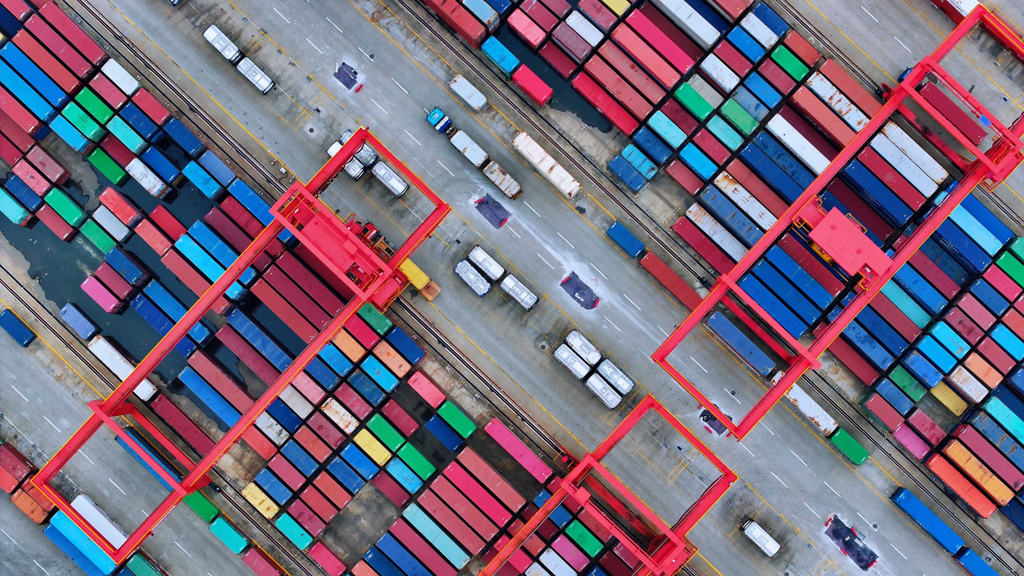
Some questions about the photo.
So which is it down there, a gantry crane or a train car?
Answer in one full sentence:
This aerial view contains a gantry crane.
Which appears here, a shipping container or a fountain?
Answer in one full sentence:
I can see a shipping container in this picture.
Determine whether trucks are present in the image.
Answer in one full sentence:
Yes, the photo shows a truck.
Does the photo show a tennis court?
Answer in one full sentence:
No, no tennis court is visible in the scene.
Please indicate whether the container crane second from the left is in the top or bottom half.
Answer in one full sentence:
The container crane second from the left sits in the bottom half of the picture.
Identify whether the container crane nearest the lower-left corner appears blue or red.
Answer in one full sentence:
In this view, the container crane nearest the lower-left corner is red.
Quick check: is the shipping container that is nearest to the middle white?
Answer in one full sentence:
Yes, the shipping container that is nearest to the middle appears white.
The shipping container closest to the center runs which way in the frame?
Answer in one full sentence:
From this overhead view, the shipping container closest to the center appears to run on a diagonal.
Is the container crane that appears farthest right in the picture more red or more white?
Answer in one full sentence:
From above, the container crane that appears farthest right appears red.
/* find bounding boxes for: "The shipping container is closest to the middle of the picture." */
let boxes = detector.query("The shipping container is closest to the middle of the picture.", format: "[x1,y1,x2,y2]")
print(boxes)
[499,273,538,312]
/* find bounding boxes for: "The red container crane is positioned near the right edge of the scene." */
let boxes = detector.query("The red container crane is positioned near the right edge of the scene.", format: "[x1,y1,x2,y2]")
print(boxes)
[649,2,1024,442]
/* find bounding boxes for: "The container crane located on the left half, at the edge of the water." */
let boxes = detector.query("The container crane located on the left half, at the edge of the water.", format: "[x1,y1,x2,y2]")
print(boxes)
[28,126,452,565]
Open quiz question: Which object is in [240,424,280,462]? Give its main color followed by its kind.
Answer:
red shipping container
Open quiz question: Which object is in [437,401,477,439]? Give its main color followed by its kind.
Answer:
green shipping container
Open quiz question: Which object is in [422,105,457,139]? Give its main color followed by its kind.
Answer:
blue truck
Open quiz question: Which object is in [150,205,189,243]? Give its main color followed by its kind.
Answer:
red shipping container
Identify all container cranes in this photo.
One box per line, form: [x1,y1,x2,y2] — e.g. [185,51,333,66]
[478,393,739,576]
[28,126,452,565]
[649,2,1024,442]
